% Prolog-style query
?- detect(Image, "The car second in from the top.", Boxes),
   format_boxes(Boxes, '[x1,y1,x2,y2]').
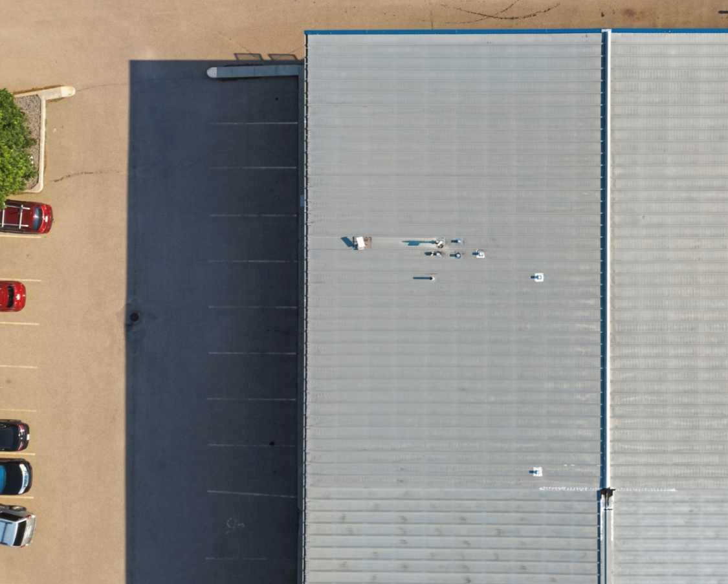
[0,281,28,312]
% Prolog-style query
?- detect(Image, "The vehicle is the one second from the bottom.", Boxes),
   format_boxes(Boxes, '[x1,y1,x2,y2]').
[0,459,35,494]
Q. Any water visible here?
No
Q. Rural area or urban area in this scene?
urban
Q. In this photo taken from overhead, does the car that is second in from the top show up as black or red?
red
